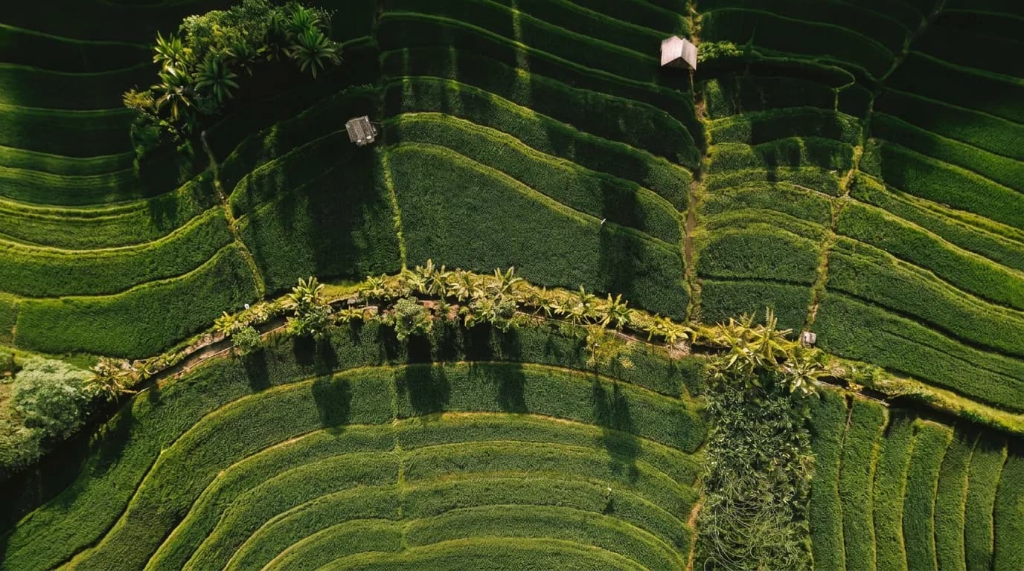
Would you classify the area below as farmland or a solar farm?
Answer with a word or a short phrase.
farmland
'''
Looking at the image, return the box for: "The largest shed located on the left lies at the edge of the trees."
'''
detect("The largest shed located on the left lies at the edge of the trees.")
[347,116,385,151]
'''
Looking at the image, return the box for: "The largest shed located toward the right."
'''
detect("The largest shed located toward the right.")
[661,33,698,77]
